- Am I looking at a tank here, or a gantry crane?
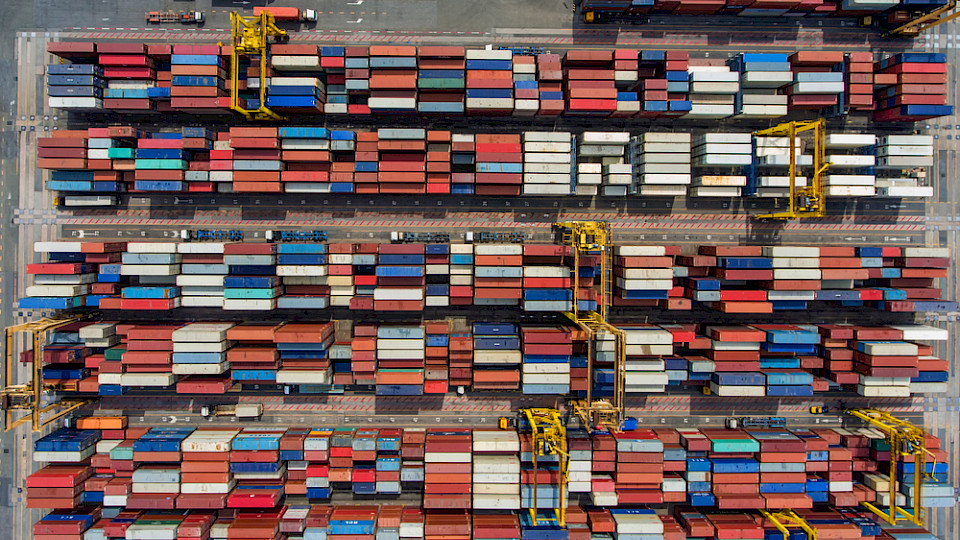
gantry crane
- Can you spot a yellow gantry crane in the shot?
Yes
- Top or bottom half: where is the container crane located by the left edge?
bottom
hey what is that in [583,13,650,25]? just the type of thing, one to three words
vehicle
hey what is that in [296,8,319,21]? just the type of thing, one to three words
vehicle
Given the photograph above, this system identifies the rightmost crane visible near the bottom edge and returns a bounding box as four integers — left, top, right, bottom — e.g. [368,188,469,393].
[838,410,946,531]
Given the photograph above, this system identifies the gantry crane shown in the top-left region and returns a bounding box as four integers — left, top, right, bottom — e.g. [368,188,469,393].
[230,11,291,123]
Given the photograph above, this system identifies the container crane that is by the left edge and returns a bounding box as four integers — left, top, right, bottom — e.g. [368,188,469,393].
[0,309,98,427]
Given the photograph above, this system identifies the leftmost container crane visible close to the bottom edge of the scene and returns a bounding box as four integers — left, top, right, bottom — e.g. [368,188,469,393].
[518,407,578,528]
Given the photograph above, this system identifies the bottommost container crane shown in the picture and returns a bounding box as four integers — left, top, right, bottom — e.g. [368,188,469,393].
[751,506,823,540]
